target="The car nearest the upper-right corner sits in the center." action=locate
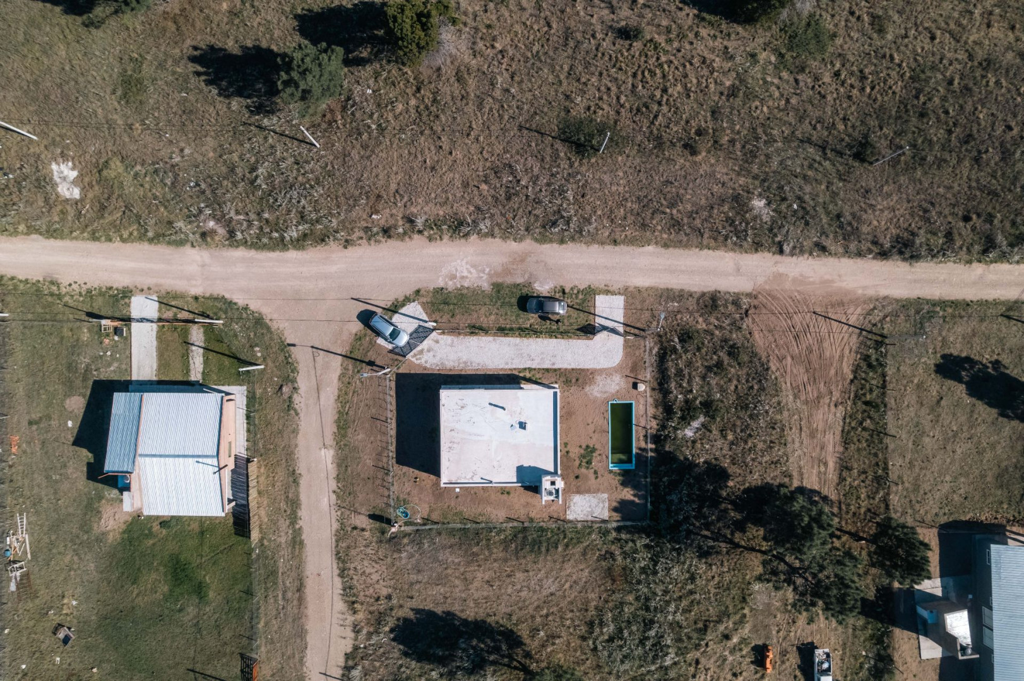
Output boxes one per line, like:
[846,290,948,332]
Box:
[527,294,568,316]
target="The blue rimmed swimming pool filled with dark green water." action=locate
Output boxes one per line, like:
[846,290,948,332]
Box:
[608,397,635,470]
